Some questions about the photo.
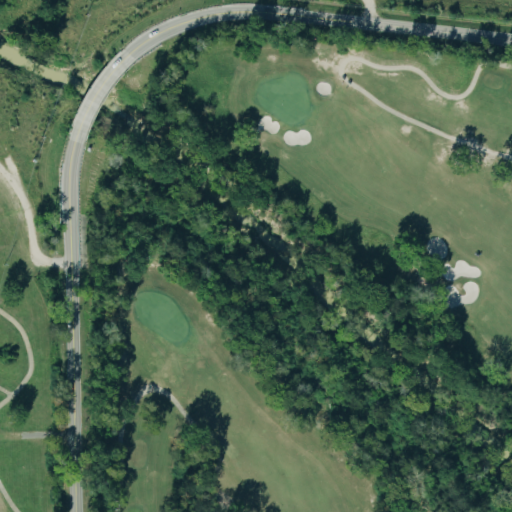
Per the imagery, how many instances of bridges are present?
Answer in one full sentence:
There is 1 bridge in the image.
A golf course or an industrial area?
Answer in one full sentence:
It's a golf course.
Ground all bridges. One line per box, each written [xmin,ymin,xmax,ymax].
[70,48,135,142]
